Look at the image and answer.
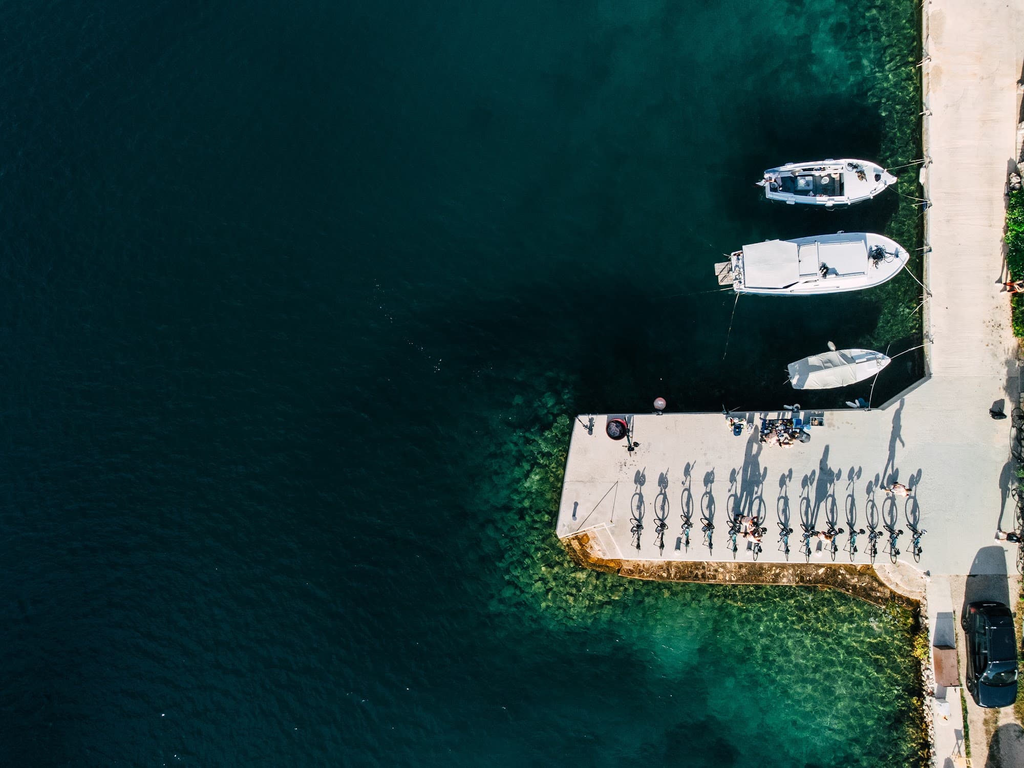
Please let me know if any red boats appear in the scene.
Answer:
No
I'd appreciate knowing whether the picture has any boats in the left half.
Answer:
No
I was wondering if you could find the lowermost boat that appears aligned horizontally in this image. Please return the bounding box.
[783,336,893,391]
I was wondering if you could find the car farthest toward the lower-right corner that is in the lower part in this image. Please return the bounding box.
[959,599,1022,708]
